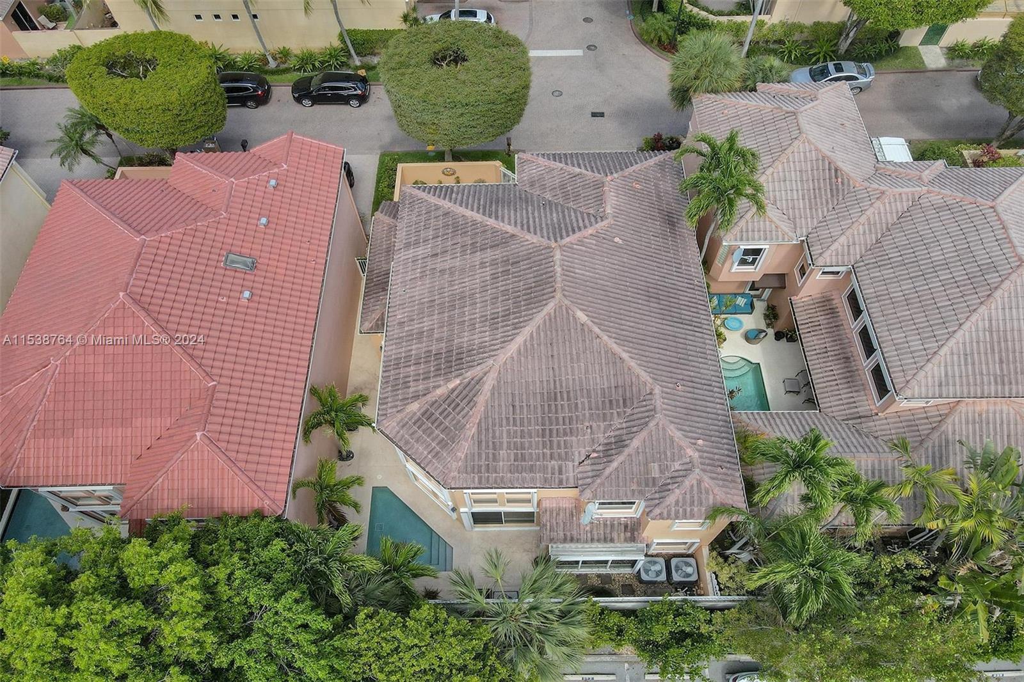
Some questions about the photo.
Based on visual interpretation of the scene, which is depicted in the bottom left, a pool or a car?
pool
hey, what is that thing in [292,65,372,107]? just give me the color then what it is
black car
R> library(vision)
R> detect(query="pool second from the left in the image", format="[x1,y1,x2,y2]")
[365,486,454,575]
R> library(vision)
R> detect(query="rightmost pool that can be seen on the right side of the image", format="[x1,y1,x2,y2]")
[722,358,772,427]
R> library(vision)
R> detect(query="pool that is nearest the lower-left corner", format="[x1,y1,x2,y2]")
[0,493,86,580]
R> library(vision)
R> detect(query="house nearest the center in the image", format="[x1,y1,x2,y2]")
[355,149,749,570]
